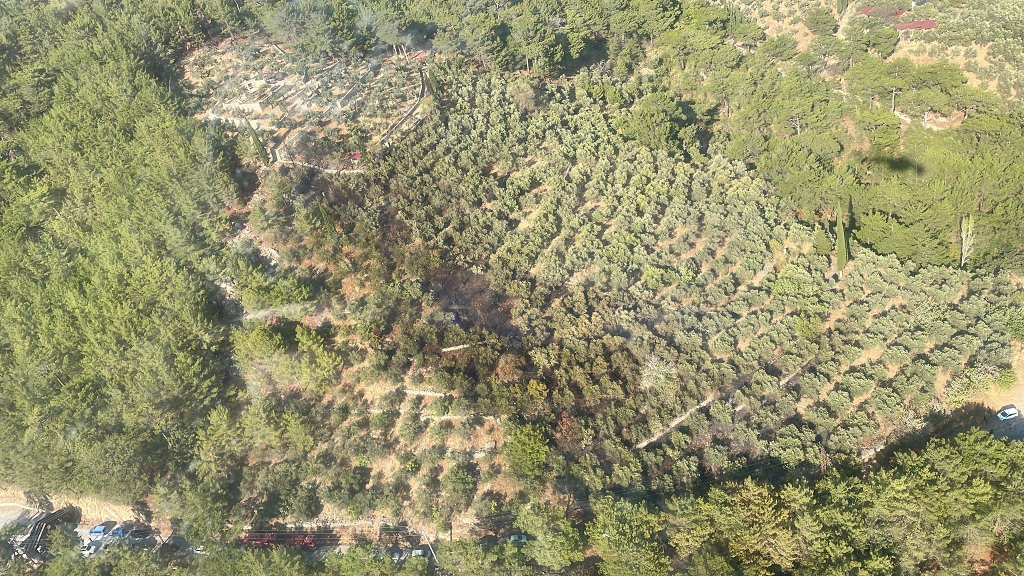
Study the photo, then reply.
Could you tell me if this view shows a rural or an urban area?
rural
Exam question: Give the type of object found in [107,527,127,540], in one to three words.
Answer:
vehicle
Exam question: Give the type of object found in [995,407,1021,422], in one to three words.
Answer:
car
